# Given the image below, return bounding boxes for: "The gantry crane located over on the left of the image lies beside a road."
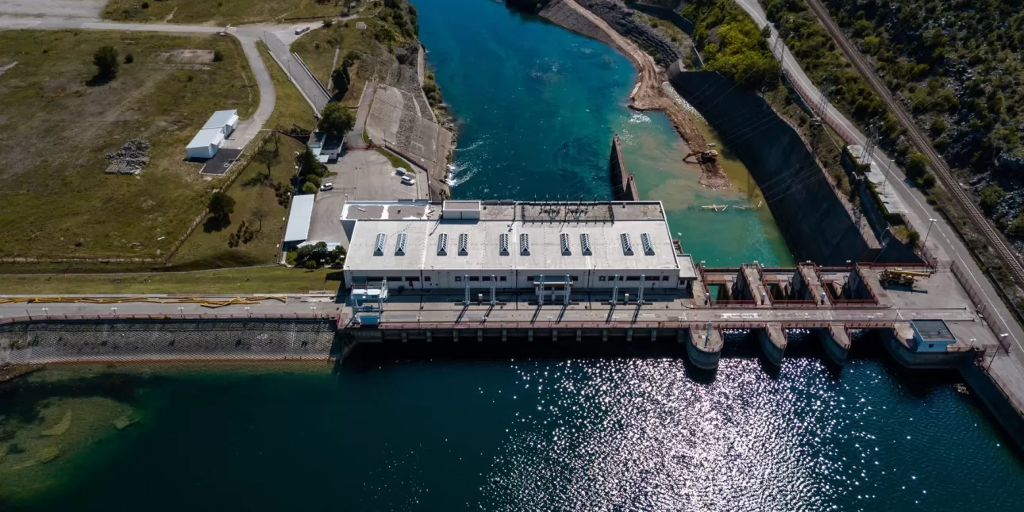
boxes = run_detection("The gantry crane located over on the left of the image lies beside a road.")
[340,277,392,326]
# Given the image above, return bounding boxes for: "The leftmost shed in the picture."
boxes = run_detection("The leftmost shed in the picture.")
[185,107,245,157]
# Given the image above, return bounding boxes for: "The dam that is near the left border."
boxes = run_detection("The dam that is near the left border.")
[0,318,329,419]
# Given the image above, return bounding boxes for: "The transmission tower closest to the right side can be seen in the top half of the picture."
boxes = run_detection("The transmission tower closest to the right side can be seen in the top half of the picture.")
[859,129,879,162]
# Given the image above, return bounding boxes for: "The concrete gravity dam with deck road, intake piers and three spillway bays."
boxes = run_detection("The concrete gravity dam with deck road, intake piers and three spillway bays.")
[322,264,1024,405]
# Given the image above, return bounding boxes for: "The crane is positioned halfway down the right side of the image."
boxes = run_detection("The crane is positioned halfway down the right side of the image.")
[876,268,932,288]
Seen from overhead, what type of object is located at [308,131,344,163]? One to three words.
building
